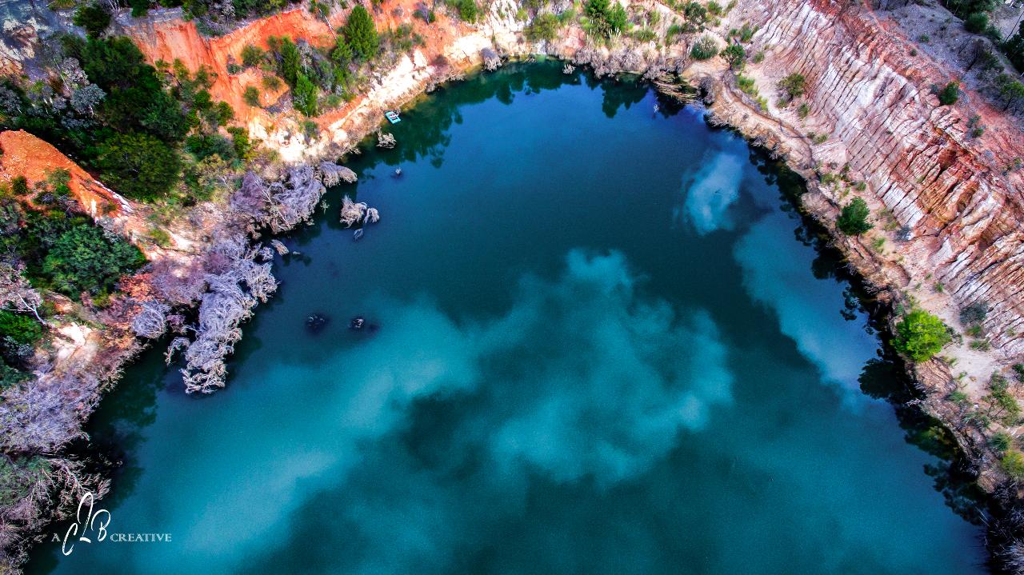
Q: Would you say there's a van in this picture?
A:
No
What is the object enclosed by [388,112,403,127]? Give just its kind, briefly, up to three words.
boat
